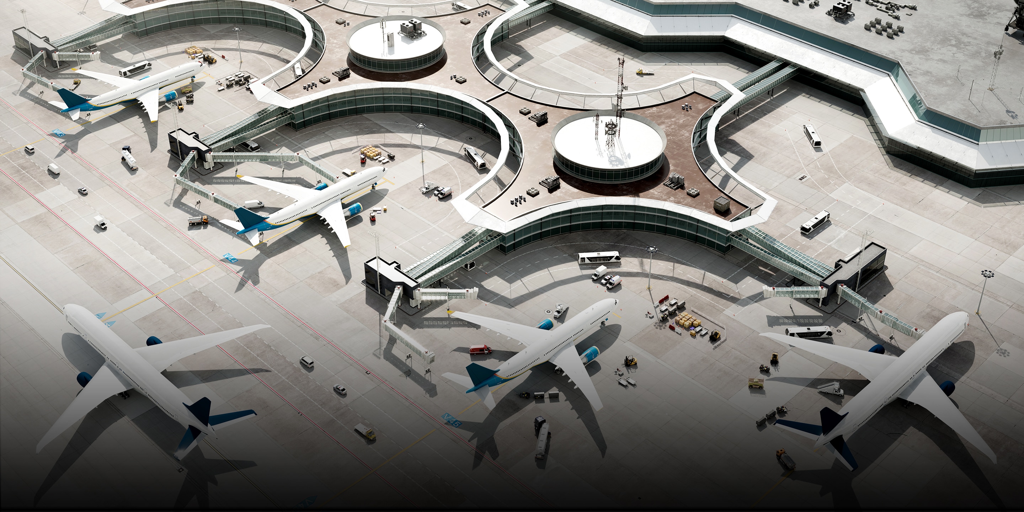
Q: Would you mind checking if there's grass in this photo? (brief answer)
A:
No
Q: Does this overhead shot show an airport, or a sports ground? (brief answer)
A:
airport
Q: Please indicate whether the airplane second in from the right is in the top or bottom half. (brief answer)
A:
bottom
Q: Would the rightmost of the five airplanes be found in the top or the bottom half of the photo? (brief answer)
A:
bottom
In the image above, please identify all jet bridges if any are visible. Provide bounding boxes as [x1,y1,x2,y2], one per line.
[18,49,92,103]
[413,286,481,312]
[379,284,439,371]
[836,282,929,344]
[755,284,827,310]
[205,150,348,185]
[170,149,267,221]
[51,50,106,71]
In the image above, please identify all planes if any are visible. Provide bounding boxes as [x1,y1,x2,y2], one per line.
[441,299,617,409]
[221,168,388,247]
[53,63,207,121]
[35,305,274,459]
[757,313,996,468]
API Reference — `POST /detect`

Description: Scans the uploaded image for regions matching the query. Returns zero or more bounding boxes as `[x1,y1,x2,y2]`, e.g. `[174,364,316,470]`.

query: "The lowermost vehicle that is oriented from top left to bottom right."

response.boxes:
[774,447,796,473]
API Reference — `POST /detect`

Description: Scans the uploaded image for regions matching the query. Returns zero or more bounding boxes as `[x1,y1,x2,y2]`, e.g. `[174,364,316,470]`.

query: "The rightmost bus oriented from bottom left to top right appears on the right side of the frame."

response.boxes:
[799,211,830,235]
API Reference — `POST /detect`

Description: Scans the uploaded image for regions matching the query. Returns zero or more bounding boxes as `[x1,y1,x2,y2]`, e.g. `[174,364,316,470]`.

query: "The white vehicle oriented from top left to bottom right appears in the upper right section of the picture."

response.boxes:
[803,126,822,149]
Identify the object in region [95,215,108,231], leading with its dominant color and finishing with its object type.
white vehicle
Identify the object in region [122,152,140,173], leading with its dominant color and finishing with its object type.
white vehicle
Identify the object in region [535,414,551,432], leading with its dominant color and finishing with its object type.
black vehicle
